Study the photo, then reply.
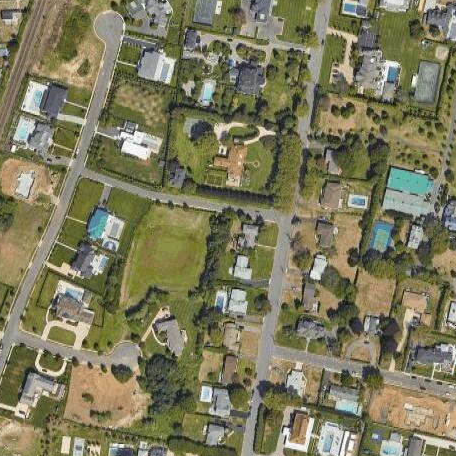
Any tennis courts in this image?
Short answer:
Yes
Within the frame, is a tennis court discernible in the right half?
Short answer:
Yes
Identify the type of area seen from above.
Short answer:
residential area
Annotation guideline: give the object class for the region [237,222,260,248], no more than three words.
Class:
house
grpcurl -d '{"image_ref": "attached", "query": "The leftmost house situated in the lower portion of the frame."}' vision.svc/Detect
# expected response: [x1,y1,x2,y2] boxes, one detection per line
[20,372,65,408]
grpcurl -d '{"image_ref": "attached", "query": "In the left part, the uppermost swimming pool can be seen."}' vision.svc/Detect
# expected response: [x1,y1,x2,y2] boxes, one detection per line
[159,57,177,84]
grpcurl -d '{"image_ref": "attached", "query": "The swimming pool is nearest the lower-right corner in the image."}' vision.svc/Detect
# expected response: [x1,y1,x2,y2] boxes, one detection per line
[381,441,404,456]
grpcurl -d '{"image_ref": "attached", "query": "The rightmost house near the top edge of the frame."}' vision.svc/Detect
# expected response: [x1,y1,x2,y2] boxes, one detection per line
[431,1,456,31]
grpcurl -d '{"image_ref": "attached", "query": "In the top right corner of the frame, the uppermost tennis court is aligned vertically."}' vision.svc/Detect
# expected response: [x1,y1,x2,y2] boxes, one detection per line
[415,61,439,103]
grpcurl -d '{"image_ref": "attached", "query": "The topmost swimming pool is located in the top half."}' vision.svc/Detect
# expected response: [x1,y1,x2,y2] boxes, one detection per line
[343,1,356,16]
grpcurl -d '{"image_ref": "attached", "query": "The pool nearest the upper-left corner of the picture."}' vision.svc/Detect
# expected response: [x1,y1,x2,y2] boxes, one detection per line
[21,84,45,115]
